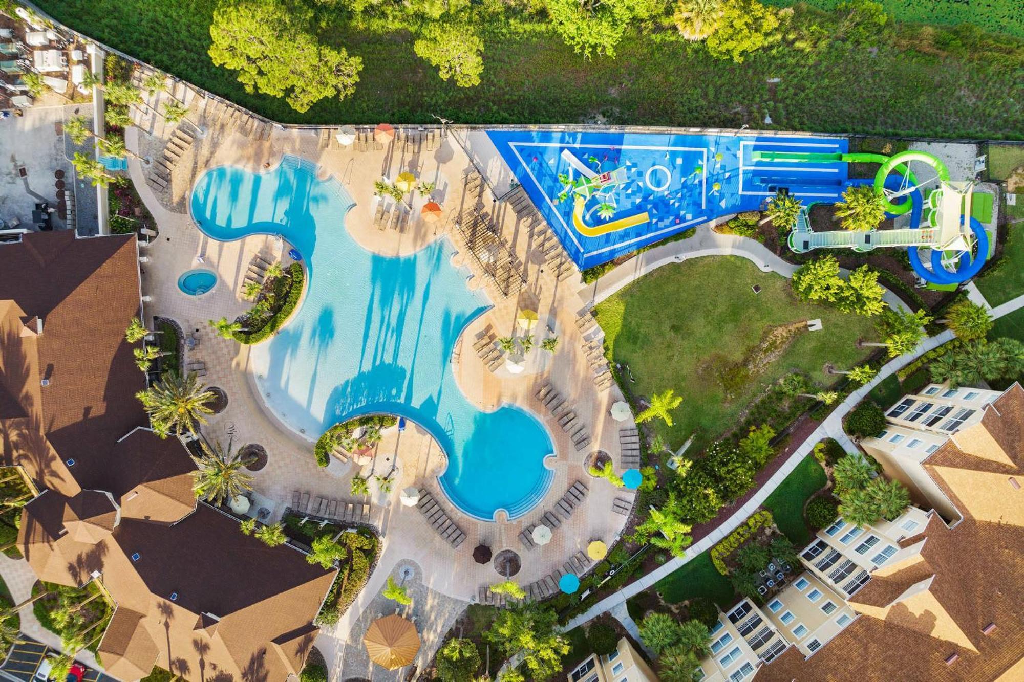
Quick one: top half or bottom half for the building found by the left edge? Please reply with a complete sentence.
The bottom half of the photo is where the building found by the left edge is.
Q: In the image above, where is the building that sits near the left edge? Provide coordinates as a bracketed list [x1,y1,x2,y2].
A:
[0,229,340,682]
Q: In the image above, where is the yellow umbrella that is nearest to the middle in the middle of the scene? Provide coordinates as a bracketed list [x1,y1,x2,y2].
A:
[517,309,538,330]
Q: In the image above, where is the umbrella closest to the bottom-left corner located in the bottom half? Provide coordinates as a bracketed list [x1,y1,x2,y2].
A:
[230,494,252,514]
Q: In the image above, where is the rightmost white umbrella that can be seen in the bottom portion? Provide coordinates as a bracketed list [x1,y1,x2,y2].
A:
[610,401,631,421]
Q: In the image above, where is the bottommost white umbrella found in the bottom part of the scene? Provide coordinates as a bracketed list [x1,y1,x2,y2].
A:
[531,524,552,545]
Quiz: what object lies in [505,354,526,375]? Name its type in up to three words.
umbrella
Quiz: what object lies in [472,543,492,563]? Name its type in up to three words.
umbrella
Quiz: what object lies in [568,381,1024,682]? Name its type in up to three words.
building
